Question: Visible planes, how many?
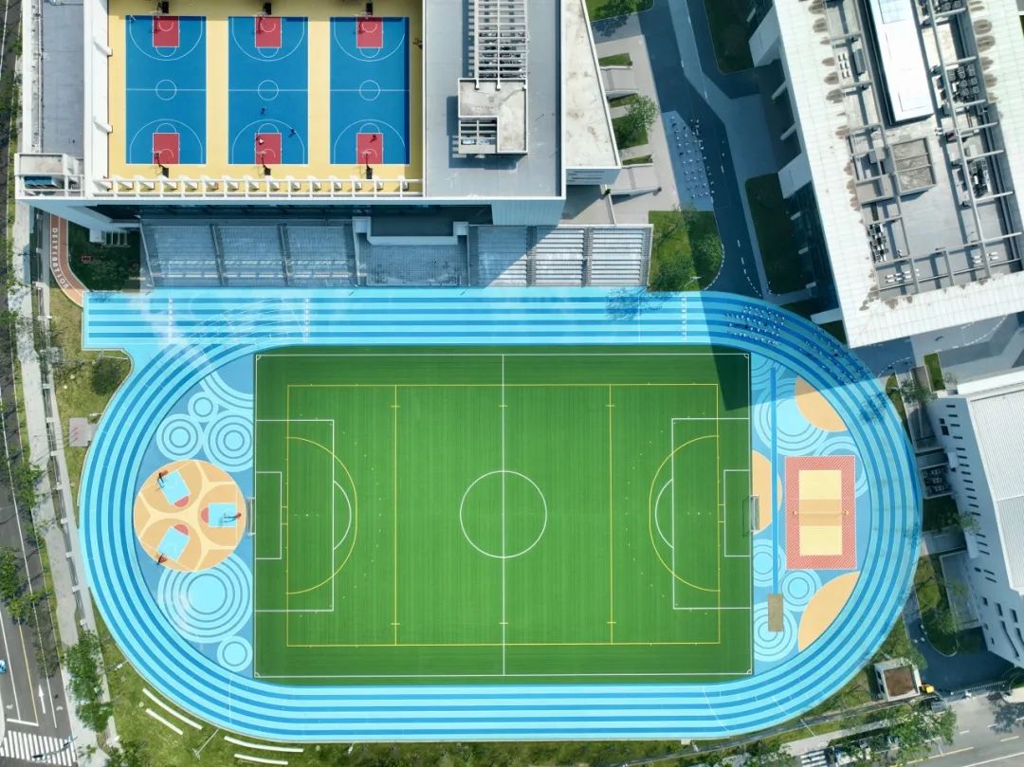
none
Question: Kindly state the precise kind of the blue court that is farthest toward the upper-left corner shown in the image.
basketball court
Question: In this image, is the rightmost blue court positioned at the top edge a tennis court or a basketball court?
basketball court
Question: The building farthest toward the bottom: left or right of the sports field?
on its right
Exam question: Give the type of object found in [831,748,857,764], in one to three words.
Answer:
vehicle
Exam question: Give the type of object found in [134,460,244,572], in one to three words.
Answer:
basketball court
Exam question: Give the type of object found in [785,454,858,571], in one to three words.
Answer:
sports court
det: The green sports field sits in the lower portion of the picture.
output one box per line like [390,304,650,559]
[253,344,754,687]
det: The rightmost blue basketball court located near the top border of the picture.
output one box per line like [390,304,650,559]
[329,16,410,165]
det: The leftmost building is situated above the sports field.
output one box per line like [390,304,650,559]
[13,0,565,245]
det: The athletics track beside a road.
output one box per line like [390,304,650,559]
[76,287,927,744]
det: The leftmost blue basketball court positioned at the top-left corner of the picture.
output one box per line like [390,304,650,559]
[124,16,207,165]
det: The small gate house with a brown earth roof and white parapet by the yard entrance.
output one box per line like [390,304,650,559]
[866,655,920,702]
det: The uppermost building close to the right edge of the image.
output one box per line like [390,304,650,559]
[749,0,1024,347]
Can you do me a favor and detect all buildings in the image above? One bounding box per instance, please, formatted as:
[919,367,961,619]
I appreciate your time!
[935,369,1024,671]
[13,0,565,245]
[866,655,920,702]
[749,0,1024,347]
